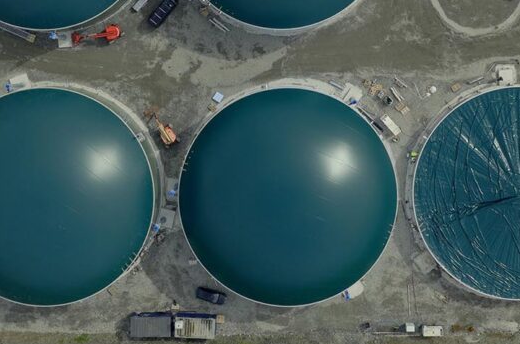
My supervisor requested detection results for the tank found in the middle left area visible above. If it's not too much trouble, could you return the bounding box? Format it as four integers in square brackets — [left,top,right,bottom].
[0,79,169,307]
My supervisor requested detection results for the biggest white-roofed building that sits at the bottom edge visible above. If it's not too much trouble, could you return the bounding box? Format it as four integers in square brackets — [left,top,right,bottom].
[419,319,442,337]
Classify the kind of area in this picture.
industrial area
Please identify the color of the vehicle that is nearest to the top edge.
black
